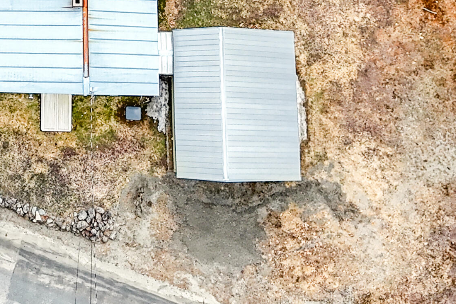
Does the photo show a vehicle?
No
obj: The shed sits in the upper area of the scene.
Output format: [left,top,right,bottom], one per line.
[164,26,302,183]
